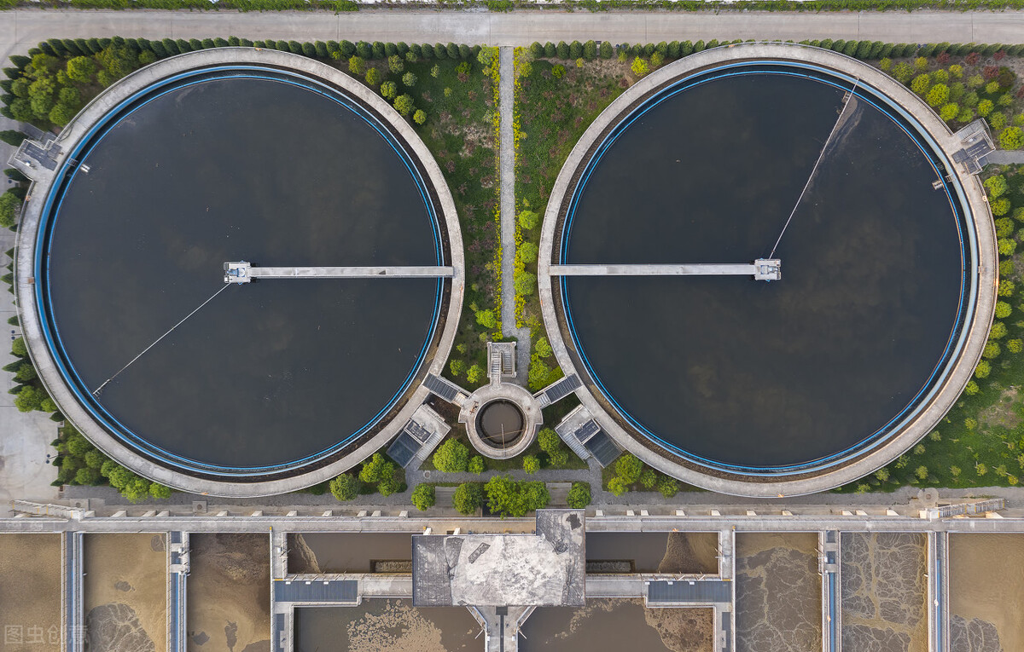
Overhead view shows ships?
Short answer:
No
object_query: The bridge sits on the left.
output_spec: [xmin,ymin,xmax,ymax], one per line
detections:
[253,266,454,278]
